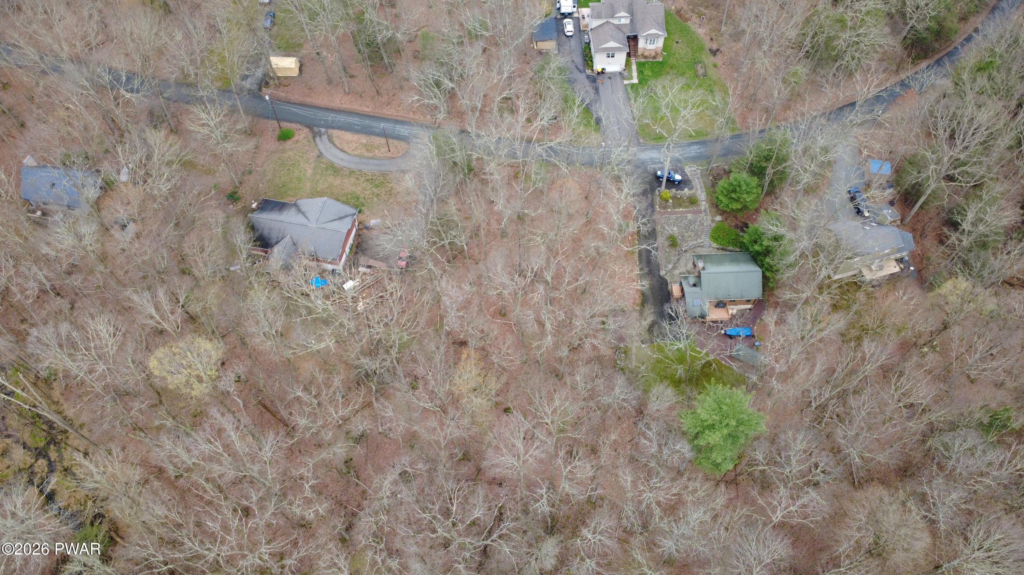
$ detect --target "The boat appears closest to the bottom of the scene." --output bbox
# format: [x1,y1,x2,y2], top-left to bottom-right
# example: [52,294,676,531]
[719,325,753,339]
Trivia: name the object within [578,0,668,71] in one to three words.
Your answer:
house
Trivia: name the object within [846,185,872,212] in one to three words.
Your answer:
truck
